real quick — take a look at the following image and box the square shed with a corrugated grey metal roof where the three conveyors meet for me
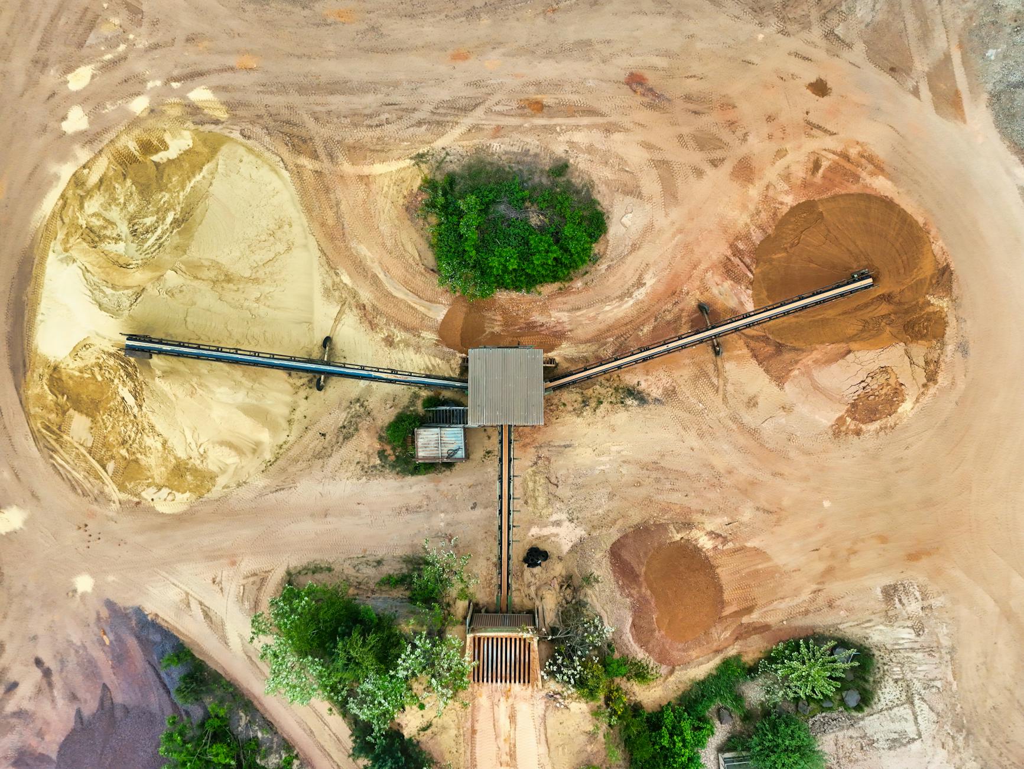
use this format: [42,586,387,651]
[460,342,557,427]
